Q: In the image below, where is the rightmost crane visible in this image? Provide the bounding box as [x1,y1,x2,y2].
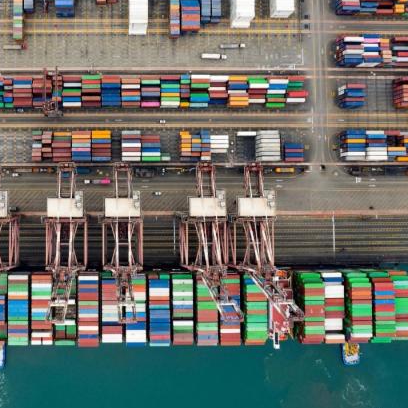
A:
[217,159,305,323]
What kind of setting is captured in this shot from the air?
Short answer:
port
